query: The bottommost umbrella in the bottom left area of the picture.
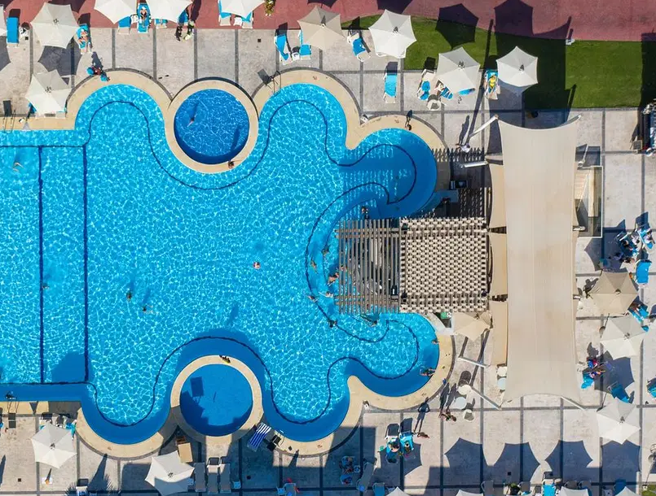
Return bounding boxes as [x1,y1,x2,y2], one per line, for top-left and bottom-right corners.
[148,451,195,496]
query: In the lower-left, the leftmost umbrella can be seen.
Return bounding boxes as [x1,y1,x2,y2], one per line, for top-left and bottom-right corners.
[31,423,77,470]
